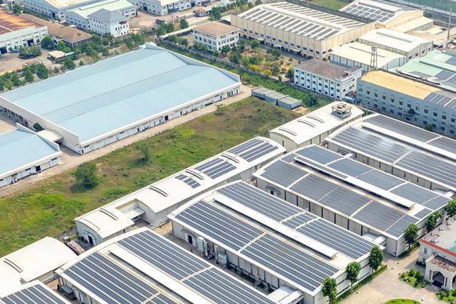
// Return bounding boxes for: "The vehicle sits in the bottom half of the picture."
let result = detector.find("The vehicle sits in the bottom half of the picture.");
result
[62,230,75,245]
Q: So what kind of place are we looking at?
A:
industrial area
